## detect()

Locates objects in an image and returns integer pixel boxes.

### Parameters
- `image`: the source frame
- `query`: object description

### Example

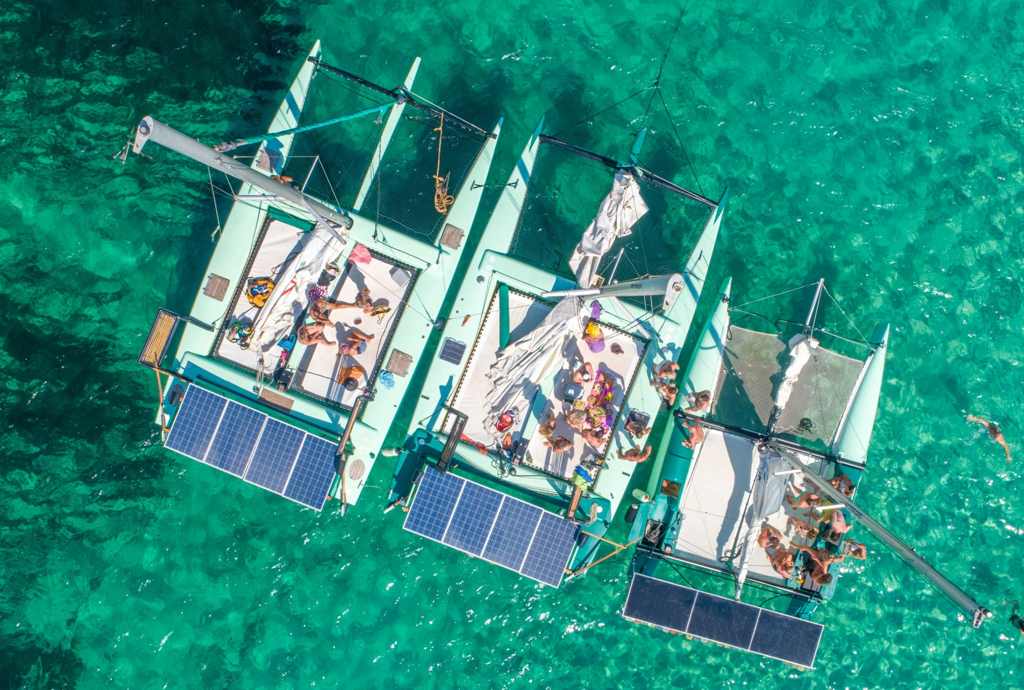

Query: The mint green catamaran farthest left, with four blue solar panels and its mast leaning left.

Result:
[112,39,503,516]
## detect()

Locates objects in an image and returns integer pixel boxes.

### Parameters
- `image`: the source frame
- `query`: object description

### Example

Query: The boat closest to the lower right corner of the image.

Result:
[623,277,995,669]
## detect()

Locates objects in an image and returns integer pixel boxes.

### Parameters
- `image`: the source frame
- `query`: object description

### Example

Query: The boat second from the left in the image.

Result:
[384,121,723,588]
